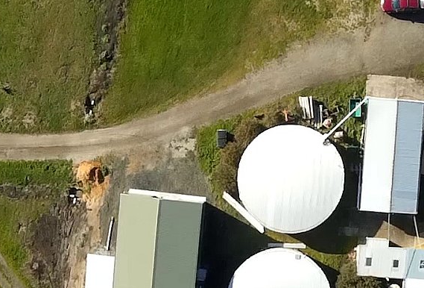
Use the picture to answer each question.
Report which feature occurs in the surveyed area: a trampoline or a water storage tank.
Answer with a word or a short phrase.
water storage tank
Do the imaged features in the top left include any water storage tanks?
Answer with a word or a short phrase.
No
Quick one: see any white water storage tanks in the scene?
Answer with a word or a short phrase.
Yes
